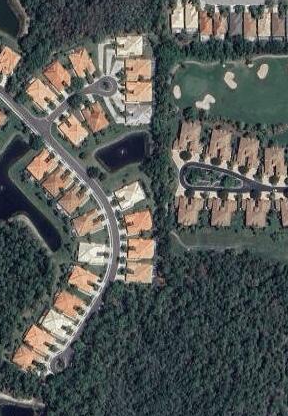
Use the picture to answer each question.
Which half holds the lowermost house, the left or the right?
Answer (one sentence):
The lowermost house is on the left side of the image.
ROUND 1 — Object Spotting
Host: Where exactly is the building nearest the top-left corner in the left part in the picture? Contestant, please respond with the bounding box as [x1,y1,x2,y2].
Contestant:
[0,46,22,74]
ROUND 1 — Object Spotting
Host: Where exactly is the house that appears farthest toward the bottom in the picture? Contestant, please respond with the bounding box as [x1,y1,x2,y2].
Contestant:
[12,345,41,370]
